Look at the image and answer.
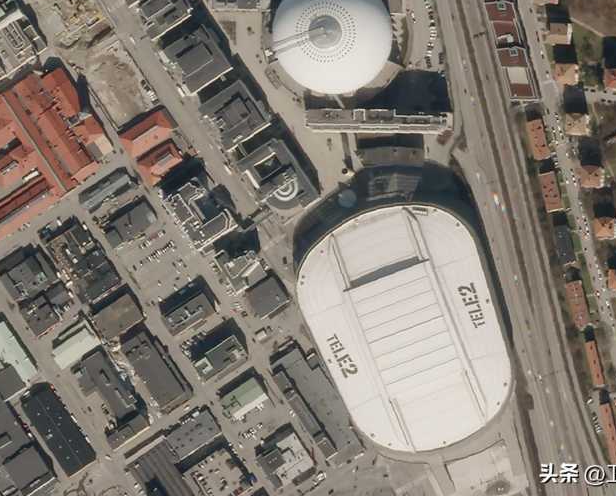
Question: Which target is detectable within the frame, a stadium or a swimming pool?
stadium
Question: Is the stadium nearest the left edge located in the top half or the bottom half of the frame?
top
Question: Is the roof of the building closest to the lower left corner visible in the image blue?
No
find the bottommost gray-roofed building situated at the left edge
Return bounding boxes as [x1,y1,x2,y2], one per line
[4,447,57,496]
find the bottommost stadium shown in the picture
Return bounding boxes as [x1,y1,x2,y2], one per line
[297,206,513,453]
